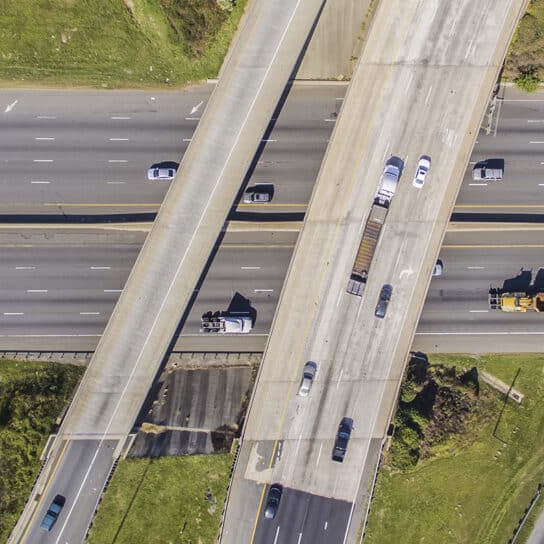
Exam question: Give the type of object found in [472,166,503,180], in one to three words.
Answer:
vehicle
